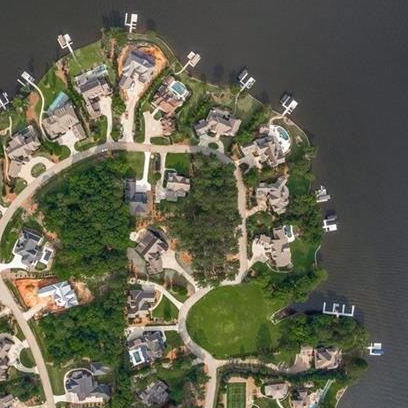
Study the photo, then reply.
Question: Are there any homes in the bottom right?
Yes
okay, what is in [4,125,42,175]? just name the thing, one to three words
house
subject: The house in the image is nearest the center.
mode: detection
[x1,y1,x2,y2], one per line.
[166,172,191,202]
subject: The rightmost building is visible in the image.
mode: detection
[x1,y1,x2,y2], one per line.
[313,345,340,370]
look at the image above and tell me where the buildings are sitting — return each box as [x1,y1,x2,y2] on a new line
[313,345,340,370]
[166,172,191,202]
[160,117,177,136]
[127,327,167,362]
[253,172,292,216]
[264,383,289,401]
[35,279,84,309]
[239,131,286,165]
[191,108,243,136]
[79,77,116,118]
[290,388,308,408]
[128,224,163,271]
[4,125,42,175]
[65,371,112,400]
[124,177,149,215]
[257,227,292,267]
[0,393,16,408]
[150,76,180,116]
[137,378,171,408]
[13,230,42,267]
[116,45,157,90]
[41,103,88,139]
[123,287,156,317]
